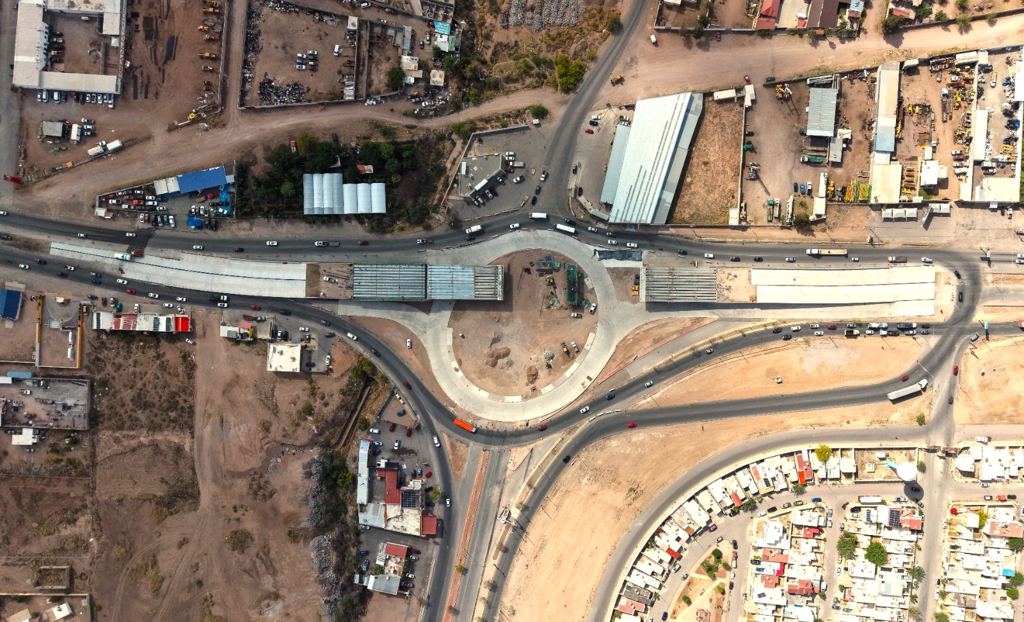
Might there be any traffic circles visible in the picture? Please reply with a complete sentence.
Yes, a traffic circle appears in the view.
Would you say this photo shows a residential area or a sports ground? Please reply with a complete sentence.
The area seen from above is a residential area.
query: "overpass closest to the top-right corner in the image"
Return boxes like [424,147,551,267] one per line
[639,266,935,303]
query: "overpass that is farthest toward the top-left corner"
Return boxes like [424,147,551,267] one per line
[51,242,504,301]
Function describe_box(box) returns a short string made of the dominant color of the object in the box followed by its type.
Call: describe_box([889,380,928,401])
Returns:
white truck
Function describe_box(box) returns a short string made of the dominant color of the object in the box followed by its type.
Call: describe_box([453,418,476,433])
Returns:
orange vehicle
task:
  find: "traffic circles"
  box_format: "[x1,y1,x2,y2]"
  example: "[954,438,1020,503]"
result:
[338,230,936,421]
